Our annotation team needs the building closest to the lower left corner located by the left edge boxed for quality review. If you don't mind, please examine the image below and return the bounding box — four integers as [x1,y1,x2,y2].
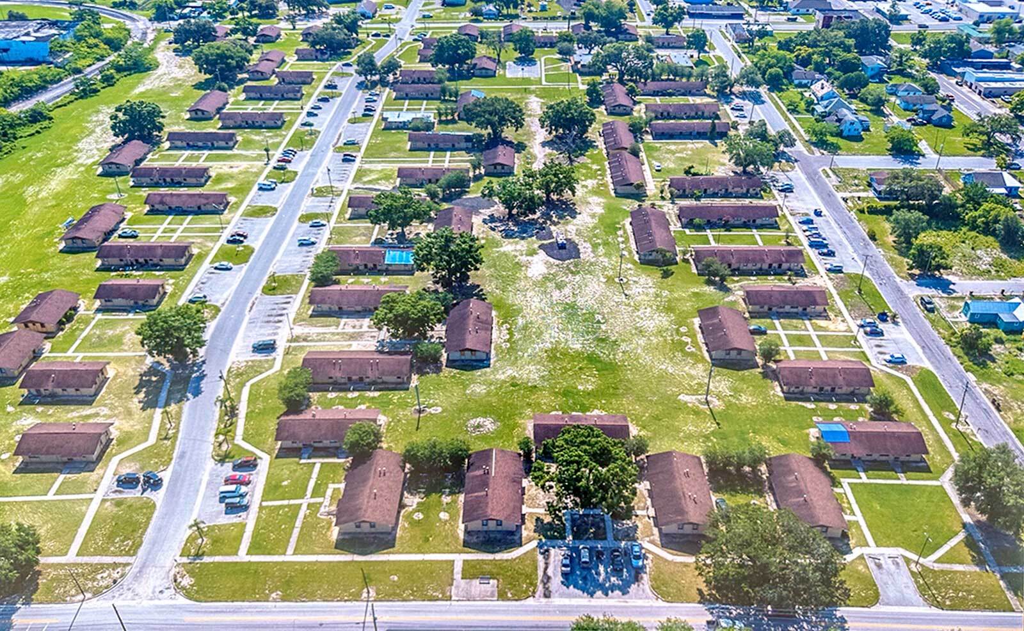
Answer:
[13,422,114,469]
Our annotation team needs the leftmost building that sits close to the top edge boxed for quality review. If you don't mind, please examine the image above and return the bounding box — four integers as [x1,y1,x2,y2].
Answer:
[0,20,75,60]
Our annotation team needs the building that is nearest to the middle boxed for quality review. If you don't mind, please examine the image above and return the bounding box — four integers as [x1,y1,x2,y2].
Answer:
[444,299,495,361]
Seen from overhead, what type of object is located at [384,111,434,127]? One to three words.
building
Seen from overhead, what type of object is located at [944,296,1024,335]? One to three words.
house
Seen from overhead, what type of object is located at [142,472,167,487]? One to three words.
car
